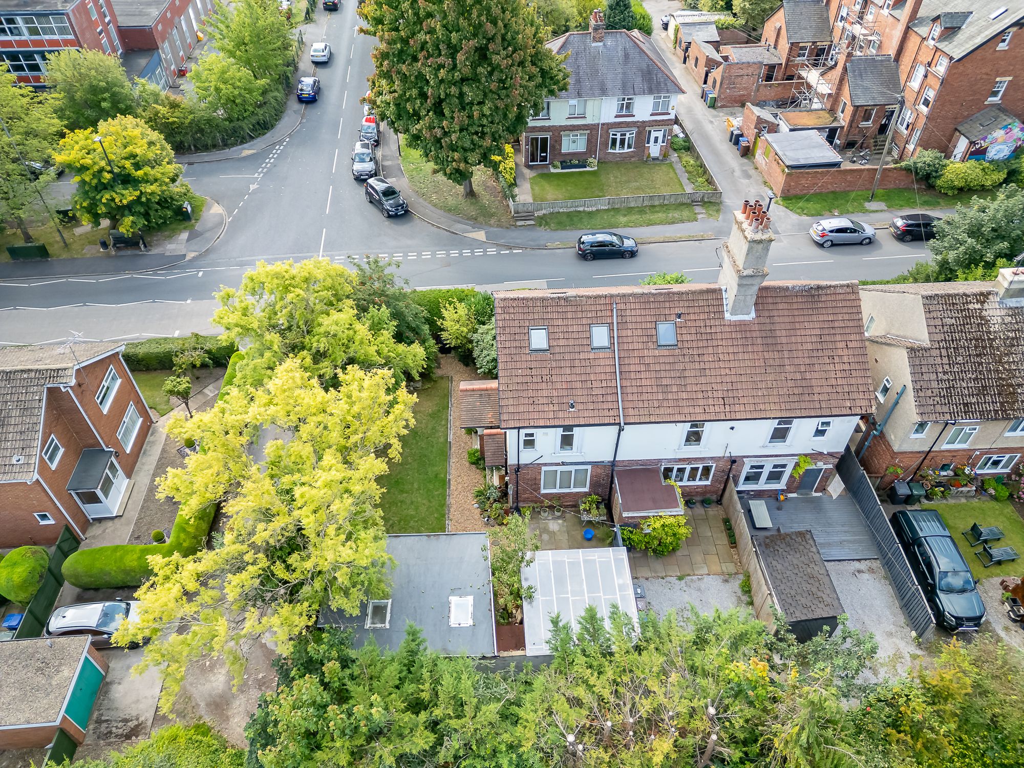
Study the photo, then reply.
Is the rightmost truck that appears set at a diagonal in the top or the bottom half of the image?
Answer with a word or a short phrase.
bottom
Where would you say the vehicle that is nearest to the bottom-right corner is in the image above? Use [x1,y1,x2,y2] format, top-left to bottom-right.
[886,502,996,630]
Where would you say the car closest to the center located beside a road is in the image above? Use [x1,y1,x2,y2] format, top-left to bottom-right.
[573,229,639,260]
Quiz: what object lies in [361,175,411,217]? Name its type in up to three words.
car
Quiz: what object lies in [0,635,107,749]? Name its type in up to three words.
building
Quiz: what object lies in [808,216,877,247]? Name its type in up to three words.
car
